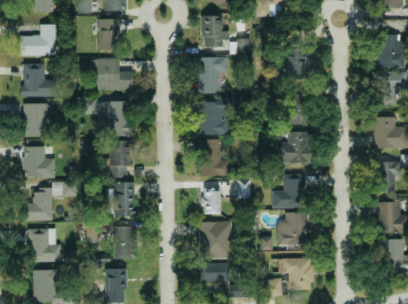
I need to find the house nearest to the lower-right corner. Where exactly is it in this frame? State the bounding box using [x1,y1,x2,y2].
[388,240,408,266]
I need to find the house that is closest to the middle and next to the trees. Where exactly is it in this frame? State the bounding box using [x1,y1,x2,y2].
[202,140,229,176]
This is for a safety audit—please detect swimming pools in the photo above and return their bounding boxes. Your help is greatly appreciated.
[262,212,280,229]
